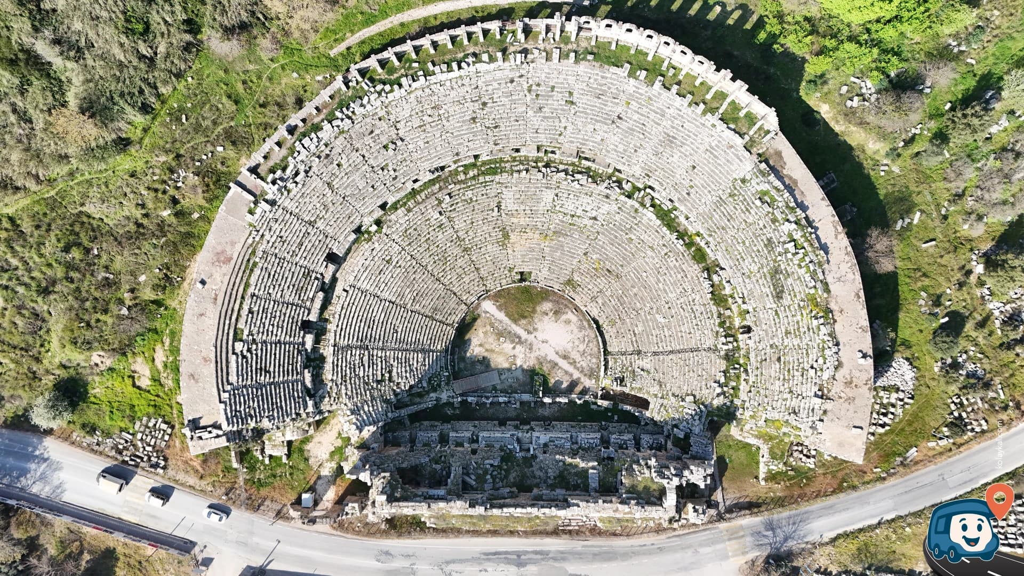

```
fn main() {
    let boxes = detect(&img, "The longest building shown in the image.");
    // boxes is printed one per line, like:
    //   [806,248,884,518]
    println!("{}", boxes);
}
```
[341,418,712,531]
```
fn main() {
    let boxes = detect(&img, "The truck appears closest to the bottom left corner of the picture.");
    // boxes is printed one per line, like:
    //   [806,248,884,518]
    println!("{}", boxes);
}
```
[96,471,130,494]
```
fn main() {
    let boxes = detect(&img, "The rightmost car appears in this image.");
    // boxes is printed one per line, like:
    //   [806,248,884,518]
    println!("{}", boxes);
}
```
[203,504,229,519]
